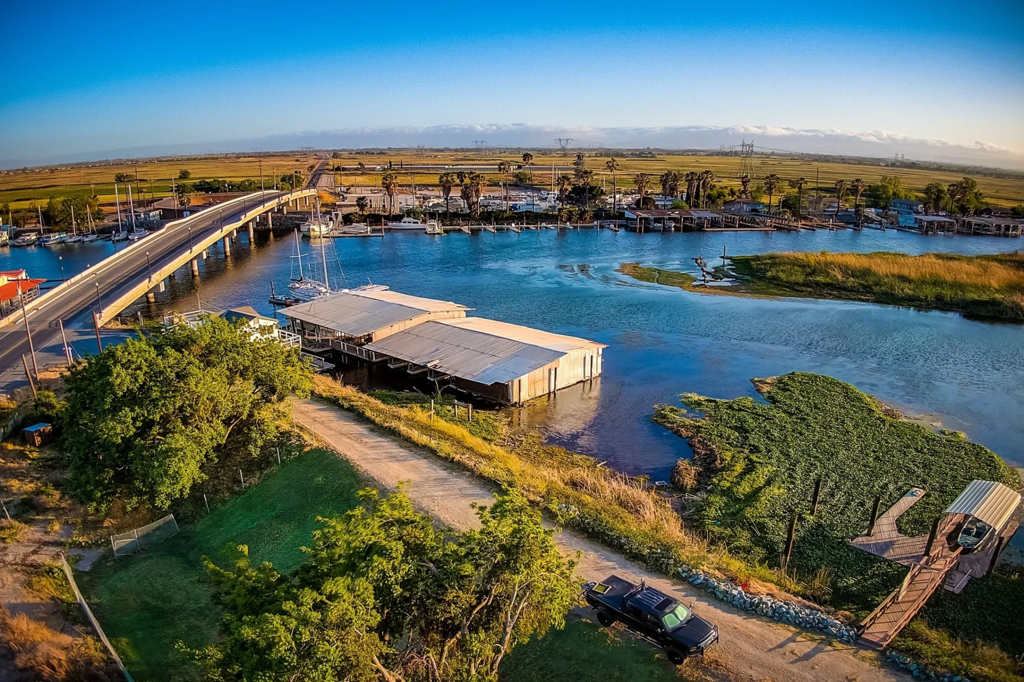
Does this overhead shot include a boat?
Yes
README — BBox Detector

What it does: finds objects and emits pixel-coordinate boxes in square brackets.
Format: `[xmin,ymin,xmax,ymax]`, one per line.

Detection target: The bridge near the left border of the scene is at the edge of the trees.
[0,188,316,380]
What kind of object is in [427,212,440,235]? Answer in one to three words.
boat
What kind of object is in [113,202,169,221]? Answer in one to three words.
building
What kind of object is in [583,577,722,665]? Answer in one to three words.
truck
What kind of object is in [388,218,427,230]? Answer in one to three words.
boat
